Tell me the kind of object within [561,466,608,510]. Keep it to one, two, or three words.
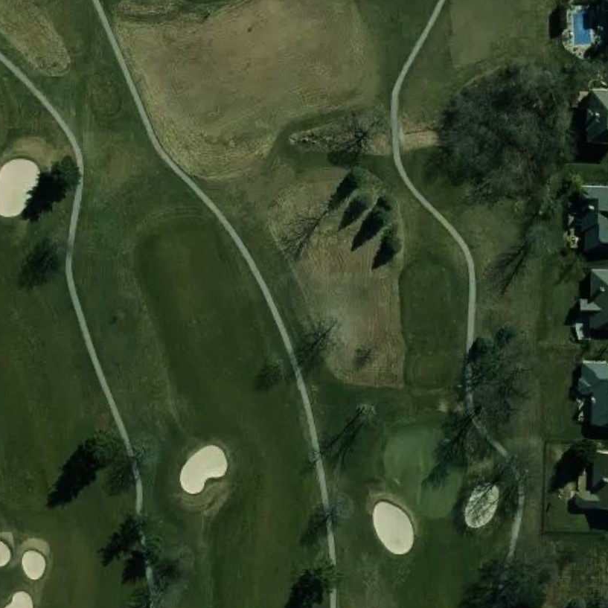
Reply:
house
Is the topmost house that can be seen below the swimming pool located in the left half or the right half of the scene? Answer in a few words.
right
